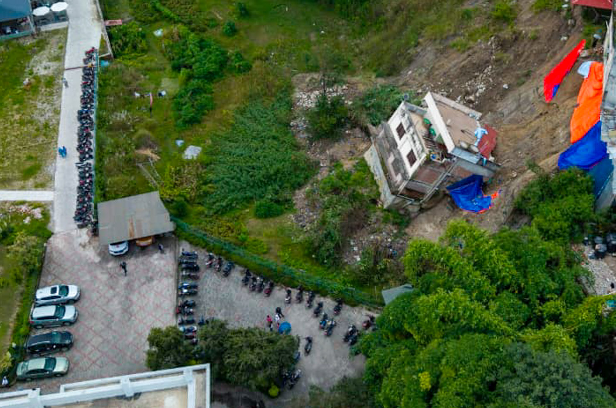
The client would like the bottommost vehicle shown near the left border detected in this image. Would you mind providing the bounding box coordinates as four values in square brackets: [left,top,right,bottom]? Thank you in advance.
[12,353,69,380]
